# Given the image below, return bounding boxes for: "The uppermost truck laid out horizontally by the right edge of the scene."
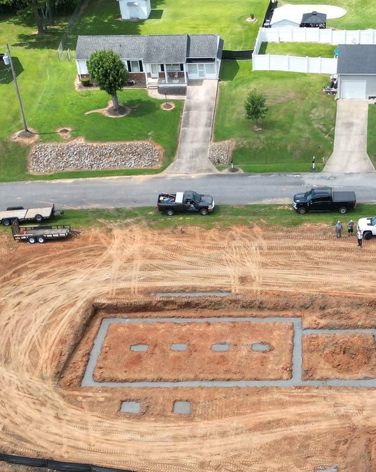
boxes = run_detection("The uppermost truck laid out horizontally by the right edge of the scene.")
[289,185,361,214]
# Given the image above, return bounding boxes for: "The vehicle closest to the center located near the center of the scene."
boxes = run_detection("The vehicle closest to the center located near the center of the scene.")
[153,189,218,216]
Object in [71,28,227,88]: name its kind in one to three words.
house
